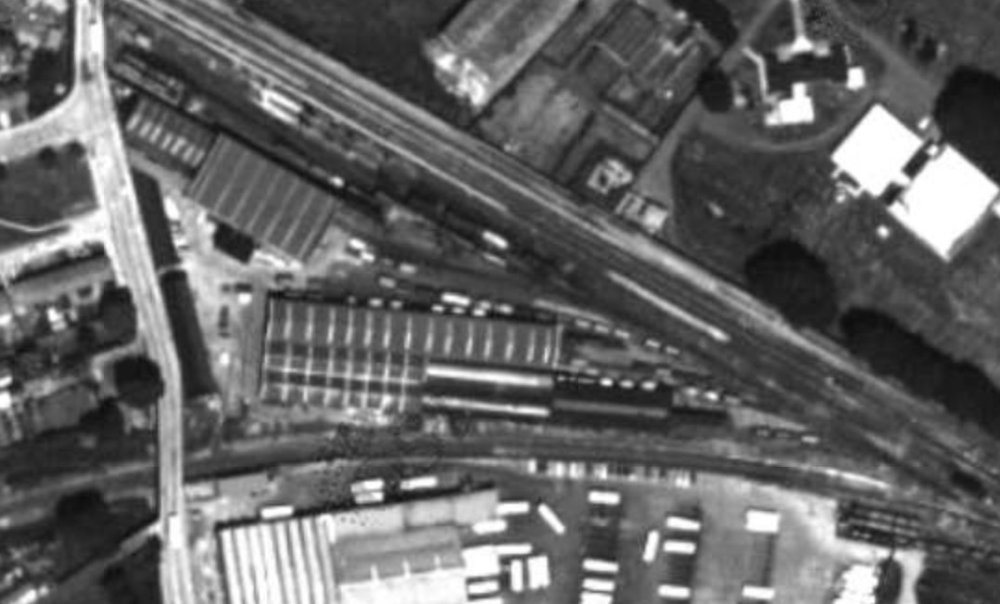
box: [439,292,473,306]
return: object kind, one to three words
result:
rail car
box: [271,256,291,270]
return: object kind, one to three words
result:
vehicle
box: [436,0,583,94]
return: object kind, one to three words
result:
building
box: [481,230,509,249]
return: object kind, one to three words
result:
rail car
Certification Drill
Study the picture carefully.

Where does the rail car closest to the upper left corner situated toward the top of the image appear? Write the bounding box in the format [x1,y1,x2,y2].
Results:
[254,75,270,88]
